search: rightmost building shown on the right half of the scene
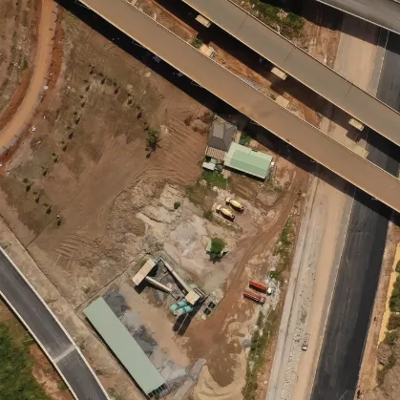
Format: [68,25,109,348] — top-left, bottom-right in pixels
[225,142,275,178]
